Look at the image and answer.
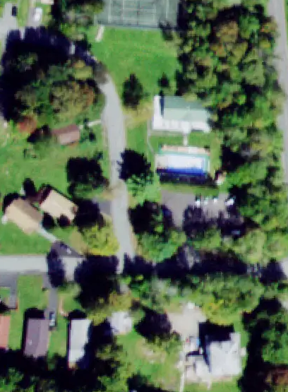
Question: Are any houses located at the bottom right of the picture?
Yes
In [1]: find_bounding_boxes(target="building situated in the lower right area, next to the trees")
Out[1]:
[185,329,247,384]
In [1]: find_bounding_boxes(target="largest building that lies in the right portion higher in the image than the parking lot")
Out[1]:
[153,95,211,130]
